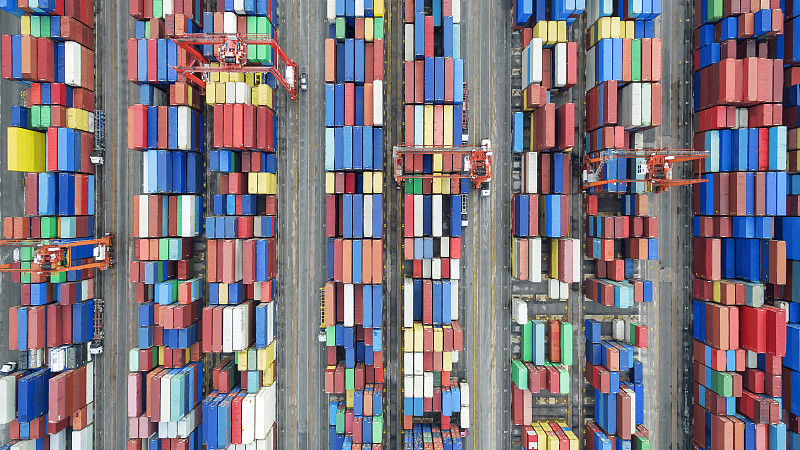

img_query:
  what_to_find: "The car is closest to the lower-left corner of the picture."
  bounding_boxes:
[1,359,19,373]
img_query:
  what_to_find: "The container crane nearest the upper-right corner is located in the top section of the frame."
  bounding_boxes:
[578,145,715,197]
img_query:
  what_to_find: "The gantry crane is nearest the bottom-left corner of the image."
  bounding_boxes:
[0,233,115,277]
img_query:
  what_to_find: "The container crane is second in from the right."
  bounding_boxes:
[396,141,495,194]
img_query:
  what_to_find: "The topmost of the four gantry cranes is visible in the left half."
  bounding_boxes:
[170,31,298,102]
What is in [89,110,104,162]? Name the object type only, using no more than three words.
vehicle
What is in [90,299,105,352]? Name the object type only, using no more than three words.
vehicle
